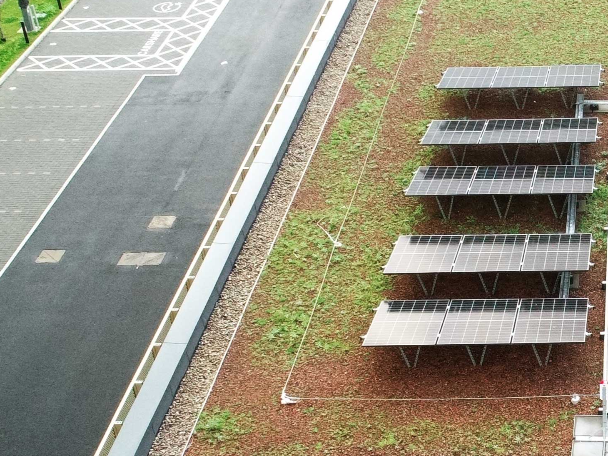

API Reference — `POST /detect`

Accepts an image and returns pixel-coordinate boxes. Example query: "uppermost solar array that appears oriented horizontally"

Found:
[433,69,604,109]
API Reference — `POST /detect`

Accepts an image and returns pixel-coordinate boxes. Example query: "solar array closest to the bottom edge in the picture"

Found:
[358,301,593,364]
